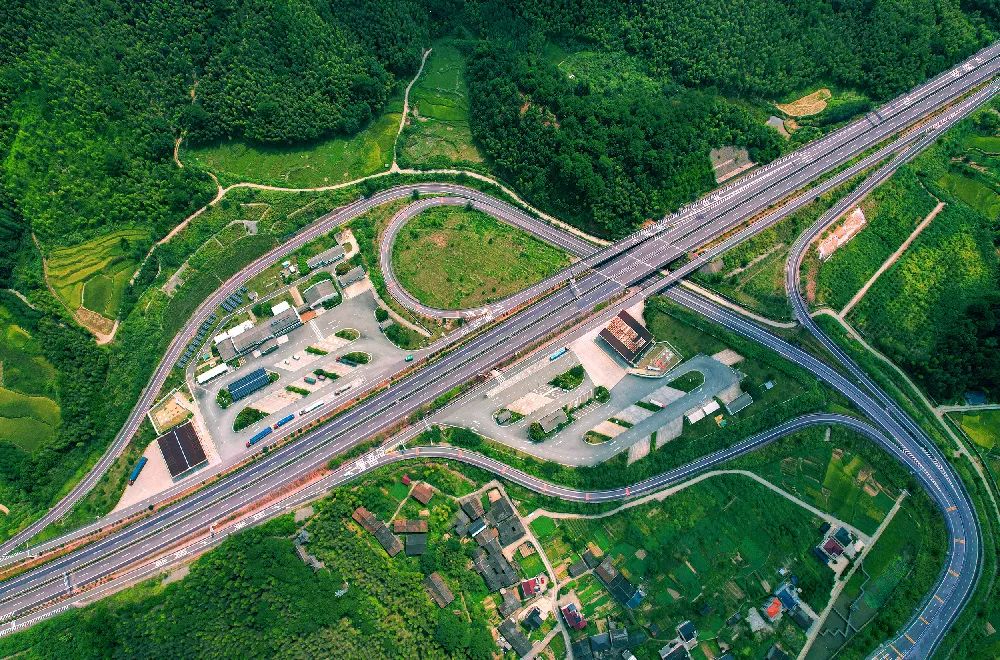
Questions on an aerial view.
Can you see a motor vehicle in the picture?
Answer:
Yes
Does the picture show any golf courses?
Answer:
No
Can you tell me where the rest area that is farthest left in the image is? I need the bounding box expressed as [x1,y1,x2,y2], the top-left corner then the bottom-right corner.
[113,229,446,511]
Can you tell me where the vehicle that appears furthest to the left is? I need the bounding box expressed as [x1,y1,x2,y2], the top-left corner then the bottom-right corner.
[128,458,146,483]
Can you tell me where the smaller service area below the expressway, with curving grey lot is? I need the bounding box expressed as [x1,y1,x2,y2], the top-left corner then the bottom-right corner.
[436,302,744,467]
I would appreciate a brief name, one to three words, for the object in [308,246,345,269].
building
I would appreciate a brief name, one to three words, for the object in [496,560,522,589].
house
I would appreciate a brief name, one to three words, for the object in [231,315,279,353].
building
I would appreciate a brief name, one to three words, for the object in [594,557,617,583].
house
